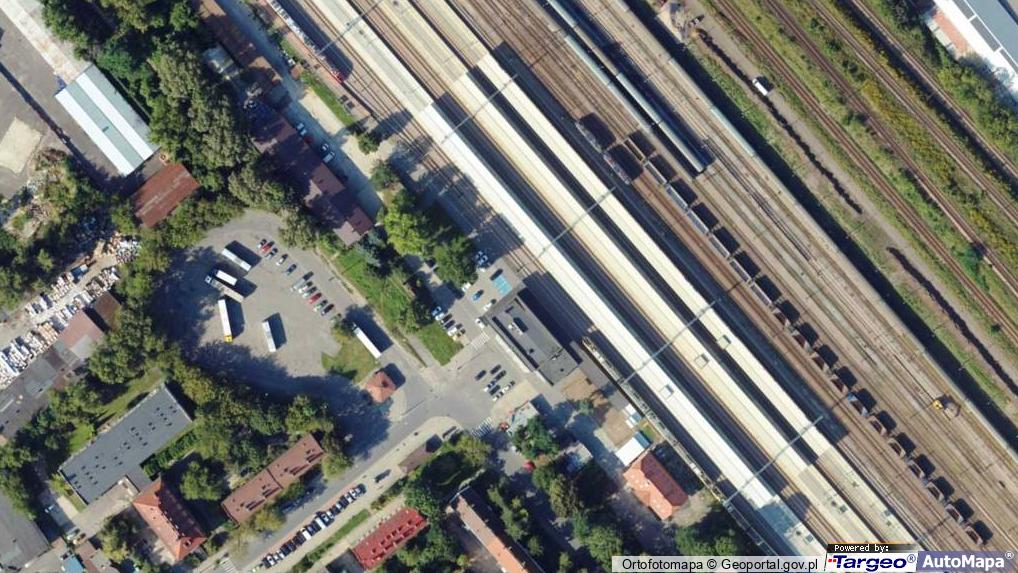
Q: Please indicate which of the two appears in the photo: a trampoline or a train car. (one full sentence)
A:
Of the two, only a train car appears.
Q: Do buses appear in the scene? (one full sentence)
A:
Yes, a bus is visible in the scene.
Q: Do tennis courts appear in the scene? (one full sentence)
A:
No, the frame has no tennis court in it.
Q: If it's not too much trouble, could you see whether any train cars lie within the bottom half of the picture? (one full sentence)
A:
Yes, I can see a train car within the bottom half of the picture.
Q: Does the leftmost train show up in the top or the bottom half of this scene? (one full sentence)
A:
The leftmost train sits in the top half of the picture.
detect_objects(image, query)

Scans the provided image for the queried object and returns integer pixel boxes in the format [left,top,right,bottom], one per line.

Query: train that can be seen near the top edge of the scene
[267,0,348,85]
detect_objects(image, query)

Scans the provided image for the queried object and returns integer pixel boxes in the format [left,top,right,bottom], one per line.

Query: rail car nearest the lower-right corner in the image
[964,522,985,546]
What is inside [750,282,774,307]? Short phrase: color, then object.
gray rail car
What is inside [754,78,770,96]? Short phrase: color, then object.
white vehicle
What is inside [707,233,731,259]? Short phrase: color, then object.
gray rail car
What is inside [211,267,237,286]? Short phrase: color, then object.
white vehicle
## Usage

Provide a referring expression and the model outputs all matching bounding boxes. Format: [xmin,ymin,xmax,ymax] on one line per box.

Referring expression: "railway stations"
[486,293,579,389]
